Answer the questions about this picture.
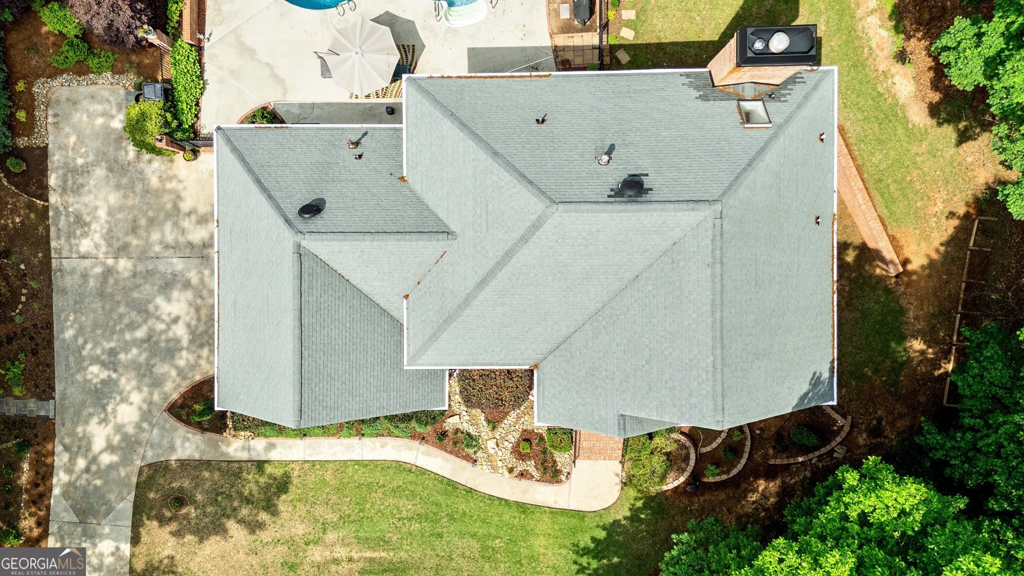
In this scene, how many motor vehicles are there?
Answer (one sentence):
I count no motor vehicles.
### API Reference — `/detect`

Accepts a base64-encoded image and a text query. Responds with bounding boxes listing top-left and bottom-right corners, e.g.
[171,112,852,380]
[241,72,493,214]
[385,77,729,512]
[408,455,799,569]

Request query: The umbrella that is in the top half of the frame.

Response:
[310,17,400,97]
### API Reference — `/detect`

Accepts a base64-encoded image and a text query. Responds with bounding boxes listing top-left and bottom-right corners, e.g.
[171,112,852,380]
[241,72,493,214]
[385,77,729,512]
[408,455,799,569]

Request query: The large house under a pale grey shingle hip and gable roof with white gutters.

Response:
[213,25,839,438]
